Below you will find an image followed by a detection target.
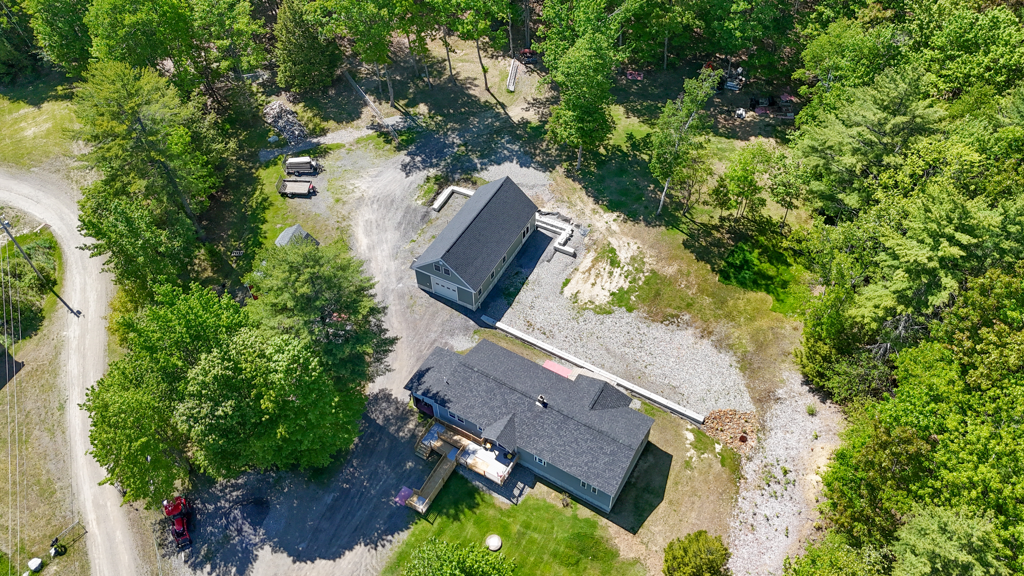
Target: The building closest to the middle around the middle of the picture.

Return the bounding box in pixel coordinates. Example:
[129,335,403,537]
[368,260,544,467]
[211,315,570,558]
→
[411,175,539,311]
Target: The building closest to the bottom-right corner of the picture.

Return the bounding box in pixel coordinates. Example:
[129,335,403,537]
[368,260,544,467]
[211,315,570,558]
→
[402,339,655,513]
